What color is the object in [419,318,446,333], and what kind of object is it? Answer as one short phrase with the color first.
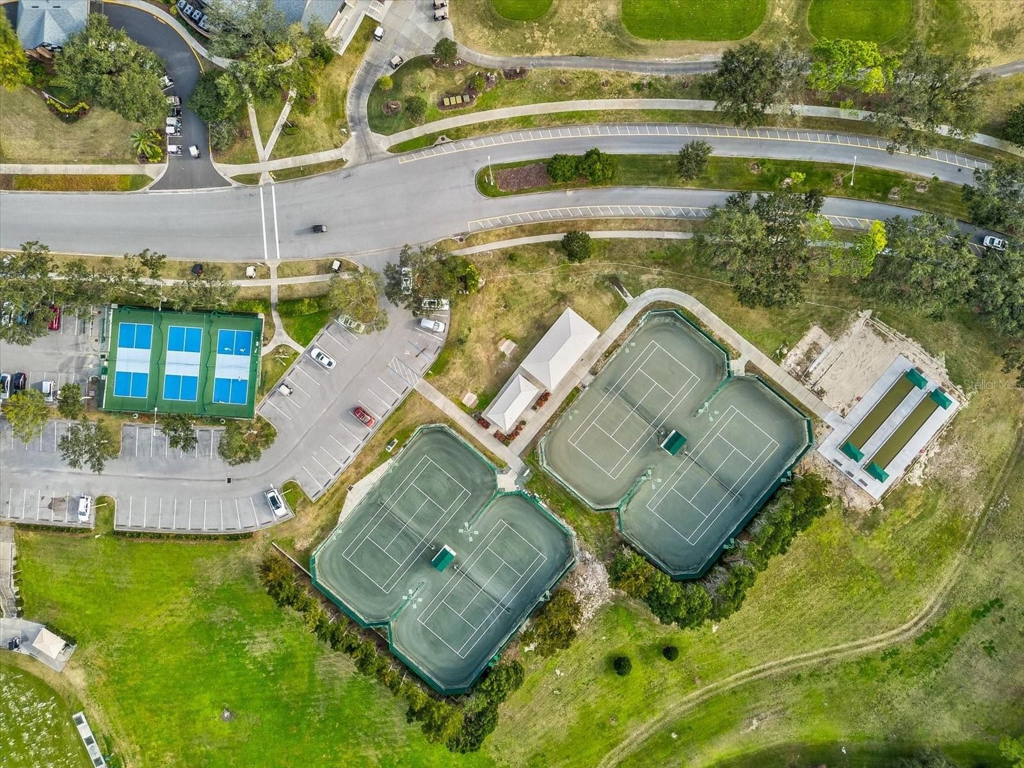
white car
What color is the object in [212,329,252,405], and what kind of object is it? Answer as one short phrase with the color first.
blue sports court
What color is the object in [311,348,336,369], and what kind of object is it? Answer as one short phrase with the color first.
white car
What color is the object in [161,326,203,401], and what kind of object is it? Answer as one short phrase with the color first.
blue sports court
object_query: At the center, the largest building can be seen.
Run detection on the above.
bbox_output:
[520,307,600,391]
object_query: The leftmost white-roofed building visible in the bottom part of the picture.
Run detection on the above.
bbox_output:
[32,624,73,659]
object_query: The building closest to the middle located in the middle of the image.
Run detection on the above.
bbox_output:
[486,374,539,431]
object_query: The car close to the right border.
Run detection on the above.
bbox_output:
[980,236,1008,251]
